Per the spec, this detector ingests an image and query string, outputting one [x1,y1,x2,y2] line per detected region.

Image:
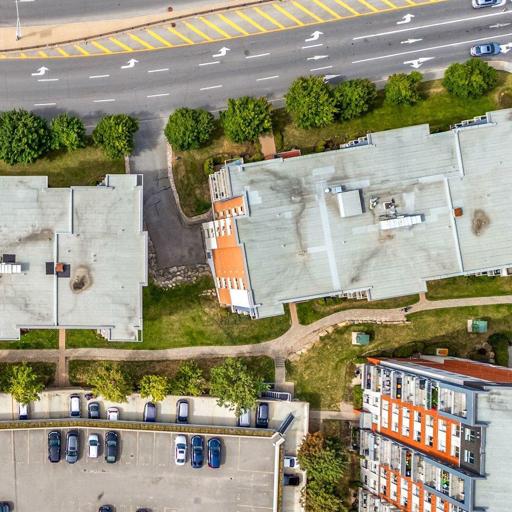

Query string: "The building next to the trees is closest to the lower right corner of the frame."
[343,354,512,512]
